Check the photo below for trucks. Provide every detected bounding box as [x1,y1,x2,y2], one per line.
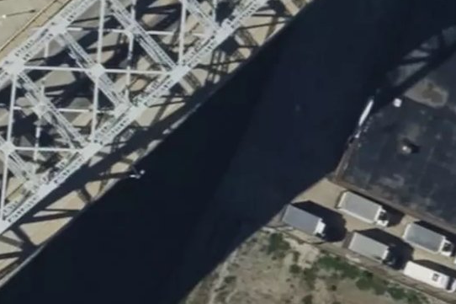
[400,224,454,257]
[336,191,390,228]
[279,204,330,239]
[346,233,398,266]
[400,261,456,293]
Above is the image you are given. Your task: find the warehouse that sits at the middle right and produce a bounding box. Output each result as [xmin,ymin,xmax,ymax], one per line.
[336,18,456,232]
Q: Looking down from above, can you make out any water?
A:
Yes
